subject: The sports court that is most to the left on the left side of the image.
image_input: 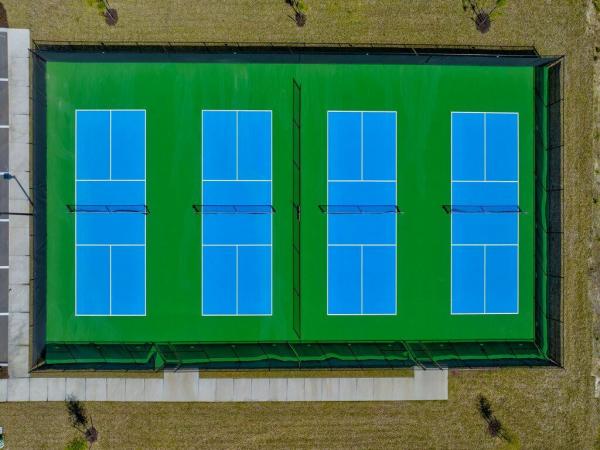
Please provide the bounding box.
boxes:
[74,109,146,316]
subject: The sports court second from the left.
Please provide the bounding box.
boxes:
[202,110,272,316]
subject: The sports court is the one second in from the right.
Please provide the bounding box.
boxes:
[328,111,397,315]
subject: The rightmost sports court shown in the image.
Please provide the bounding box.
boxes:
[451,111,520,315]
